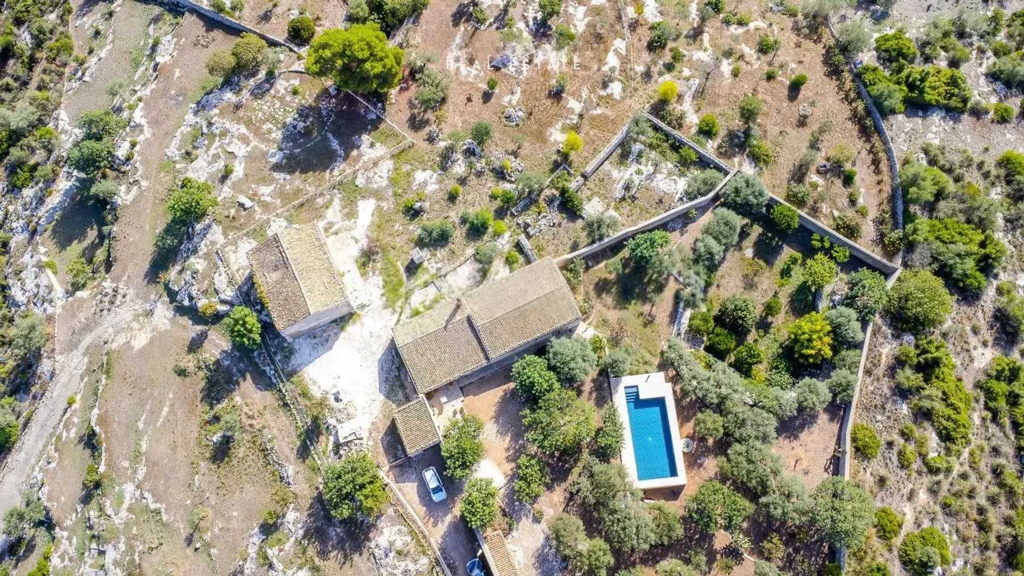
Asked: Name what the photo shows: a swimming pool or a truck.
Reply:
swimming pool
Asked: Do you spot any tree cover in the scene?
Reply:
Yes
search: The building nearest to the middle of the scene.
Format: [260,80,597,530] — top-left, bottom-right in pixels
[393,258,581,398]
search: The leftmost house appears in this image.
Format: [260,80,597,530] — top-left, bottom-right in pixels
[247,223,353,339]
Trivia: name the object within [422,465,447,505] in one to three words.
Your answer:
car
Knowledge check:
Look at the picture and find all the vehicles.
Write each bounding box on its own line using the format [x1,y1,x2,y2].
[422,465,447,505]
[467,555,486,576]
